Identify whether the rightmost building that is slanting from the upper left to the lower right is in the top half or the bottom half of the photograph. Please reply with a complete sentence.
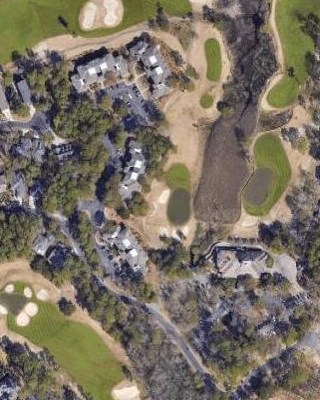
Seen from above, the rightmost building that is slanting from the upper left to the lower right lies in the top half of the view.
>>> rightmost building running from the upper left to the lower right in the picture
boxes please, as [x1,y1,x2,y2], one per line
[128,42,174,99]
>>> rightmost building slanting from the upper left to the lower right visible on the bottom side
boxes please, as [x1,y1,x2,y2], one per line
[102,229,153,281]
